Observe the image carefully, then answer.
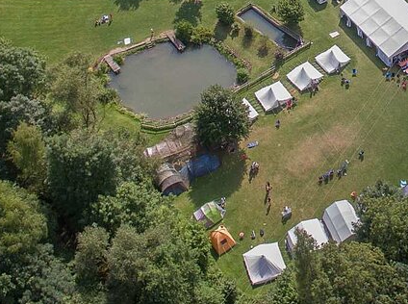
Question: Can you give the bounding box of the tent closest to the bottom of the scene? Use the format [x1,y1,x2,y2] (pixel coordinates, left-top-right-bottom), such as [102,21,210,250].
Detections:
[243,241,291,285]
